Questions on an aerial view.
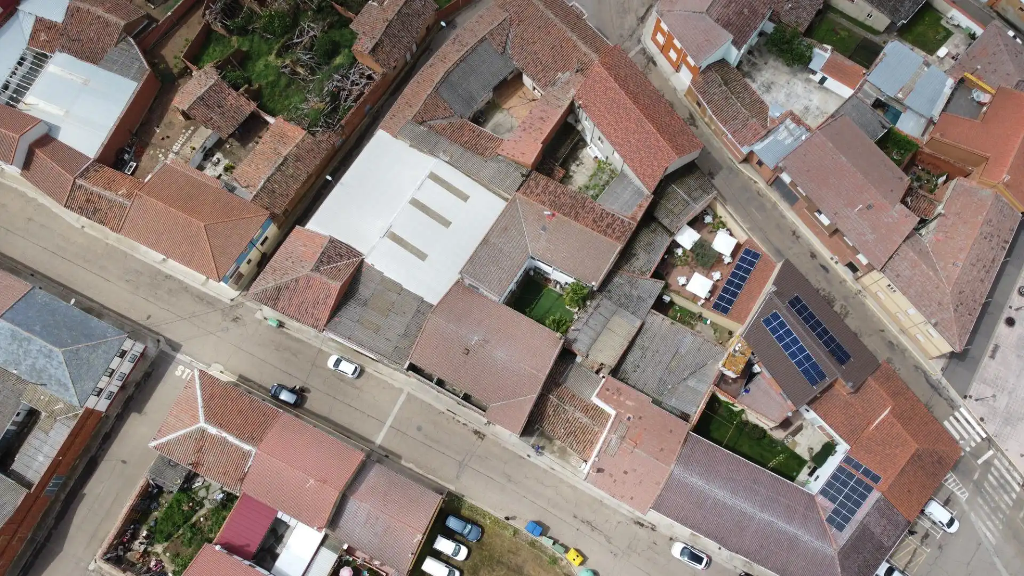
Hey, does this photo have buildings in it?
Yes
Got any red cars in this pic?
No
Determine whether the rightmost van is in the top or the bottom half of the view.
bottom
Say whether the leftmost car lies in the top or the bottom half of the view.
bottom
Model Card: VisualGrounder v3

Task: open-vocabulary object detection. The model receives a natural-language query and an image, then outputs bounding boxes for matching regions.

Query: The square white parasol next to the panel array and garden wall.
[685,272,714,299]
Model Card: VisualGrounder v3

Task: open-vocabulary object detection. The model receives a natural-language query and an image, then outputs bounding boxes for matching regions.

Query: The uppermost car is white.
[327,357,362,378]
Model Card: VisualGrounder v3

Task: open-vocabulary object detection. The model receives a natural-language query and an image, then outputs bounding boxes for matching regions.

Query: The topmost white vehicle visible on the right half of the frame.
[920,498,961,533]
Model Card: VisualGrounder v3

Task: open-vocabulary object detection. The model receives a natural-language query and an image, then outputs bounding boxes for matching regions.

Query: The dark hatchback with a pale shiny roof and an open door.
[268,383,303,407]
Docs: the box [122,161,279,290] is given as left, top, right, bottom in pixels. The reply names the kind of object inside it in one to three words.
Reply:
house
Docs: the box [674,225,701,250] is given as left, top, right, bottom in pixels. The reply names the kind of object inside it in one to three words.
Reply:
umbrella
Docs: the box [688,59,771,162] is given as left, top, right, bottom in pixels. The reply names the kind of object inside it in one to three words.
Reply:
house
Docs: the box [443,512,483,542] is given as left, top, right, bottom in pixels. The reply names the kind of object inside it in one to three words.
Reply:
car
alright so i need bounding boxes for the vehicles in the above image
[670,544,710,570]
[920,498,961,533]
[443,512,483,542]
[327,357,362,378]
[419,553,464,576]
[268,383,303,407]
[881,563,908,576]
[431,533,470,563]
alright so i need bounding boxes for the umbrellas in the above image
[338,563,354,576]
[712,230,738,256]
[674,225,701,250]
[685,272,714,299]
